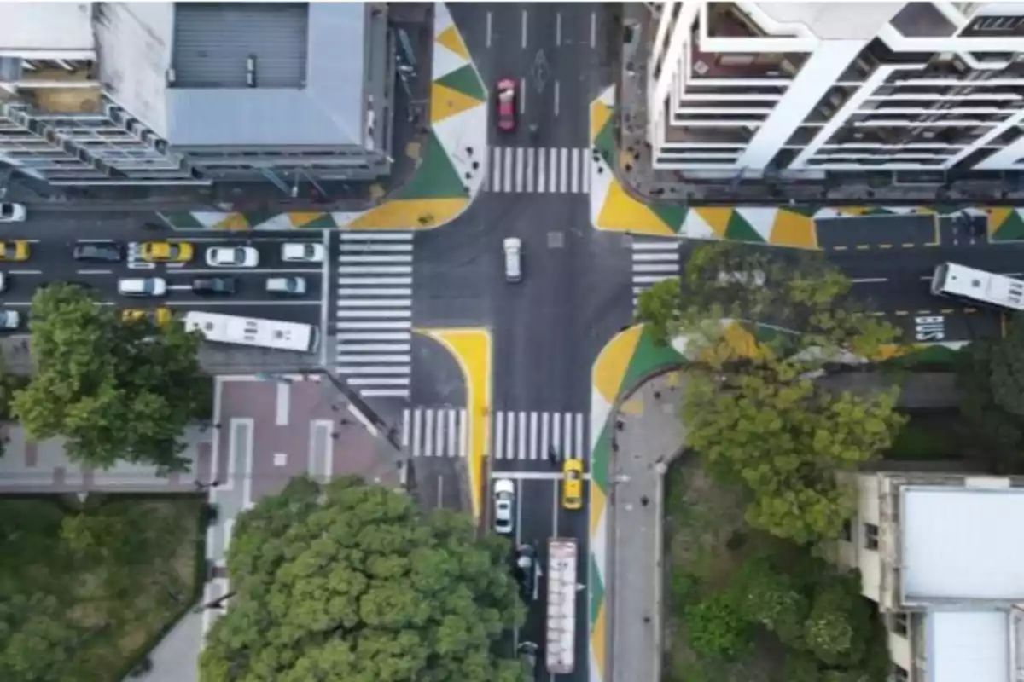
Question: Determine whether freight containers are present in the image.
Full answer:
No, the frame has no freight container in it.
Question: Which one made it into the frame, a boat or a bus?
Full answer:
Of the two, only a bus appears.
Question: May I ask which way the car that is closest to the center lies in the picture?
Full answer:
I'd say the car that is closest to the center is aligned from top to bottom in the picture.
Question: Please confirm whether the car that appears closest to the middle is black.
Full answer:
No, the color of the car that appears closest to the middle is white.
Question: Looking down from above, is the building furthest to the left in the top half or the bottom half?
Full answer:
The building furthest to the left is in the top half of the image.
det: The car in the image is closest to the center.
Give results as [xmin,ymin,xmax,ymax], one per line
[502,238,523,283]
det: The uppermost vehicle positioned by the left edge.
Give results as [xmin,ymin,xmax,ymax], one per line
[0,201,30,223]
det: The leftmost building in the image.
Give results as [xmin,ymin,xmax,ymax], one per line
[0,0,213,194]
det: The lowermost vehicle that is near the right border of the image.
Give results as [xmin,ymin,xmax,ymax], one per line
[930,264,1024,315]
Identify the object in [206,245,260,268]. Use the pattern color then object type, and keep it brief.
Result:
white car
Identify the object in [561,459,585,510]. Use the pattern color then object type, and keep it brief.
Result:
yellow car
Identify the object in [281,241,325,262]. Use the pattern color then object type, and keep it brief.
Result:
white car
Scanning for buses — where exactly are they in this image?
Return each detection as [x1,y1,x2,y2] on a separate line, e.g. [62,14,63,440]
[185,312,321,356]
[930,264,1024,315]
[544,535,578,675]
